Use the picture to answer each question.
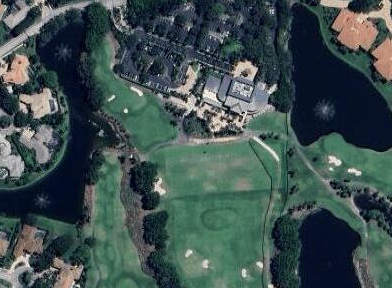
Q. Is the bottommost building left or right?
left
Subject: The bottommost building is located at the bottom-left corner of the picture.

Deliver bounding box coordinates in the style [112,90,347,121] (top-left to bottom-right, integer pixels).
[48,259,86,288]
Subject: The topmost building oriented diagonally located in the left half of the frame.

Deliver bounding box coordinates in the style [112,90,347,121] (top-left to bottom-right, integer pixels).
[3,1,29,26]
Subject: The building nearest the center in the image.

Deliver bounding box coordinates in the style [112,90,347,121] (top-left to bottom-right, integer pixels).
[195,72,255,119]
